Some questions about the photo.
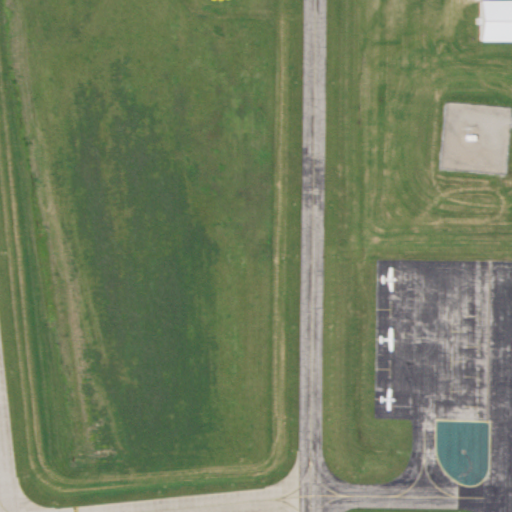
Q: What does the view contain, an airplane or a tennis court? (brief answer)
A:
airplane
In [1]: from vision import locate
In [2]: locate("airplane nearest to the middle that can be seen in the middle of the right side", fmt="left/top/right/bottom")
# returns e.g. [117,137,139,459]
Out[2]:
[381,266,398,293]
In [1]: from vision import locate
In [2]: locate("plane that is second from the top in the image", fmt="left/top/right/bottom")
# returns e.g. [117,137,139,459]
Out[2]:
[379,327,398,354]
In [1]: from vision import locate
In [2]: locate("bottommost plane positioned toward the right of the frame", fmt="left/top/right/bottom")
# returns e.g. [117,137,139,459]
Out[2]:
[380,388,396,412]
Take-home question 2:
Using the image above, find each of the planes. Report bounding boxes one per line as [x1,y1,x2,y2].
[380,388,396,412]
[379,327,398,354]
[381,266,398,293]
